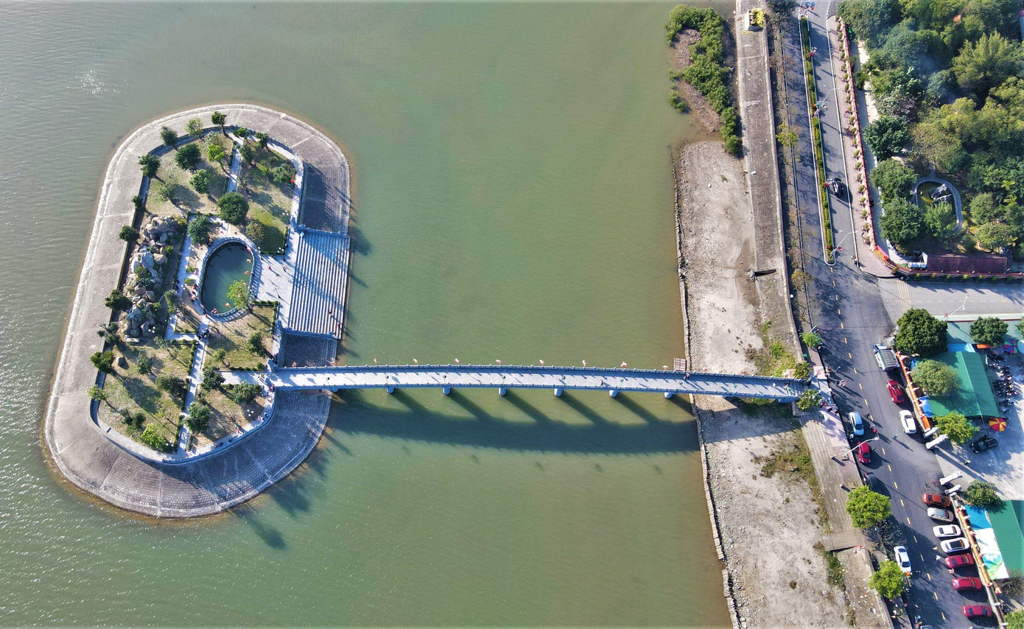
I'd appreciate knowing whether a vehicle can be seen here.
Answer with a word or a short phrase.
Yes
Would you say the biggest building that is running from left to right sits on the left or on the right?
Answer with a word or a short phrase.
right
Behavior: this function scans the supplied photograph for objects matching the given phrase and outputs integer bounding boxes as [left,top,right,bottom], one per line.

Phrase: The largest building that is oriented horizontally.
[914,254,1006,281]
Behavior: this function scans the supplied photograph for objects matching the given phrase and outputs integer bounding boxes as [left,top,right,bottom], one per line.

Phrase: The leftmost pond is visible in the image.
[195,235,258,318]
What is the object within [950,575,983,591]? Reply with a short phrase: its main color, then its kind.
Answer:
red car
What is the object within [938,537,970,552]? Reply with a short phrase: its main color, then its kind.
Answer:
white car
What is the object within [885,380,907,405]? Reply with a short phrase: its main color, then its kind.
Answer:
red car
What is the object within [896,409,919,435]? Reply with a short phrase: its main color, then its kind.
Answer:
white car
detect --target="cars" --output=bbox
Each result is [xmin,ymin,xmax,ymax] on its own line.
[885,380,907,405]
[910,623,924,629]
[950,575,983,591]
[829,178,845,197]
[856,440,873,465]
[968,435,1000,452]
[938,537,970,552]
[931,523,962,537]
[925,506,955,523]
[921,494,951,508]
[846,411,864,436]
[892,544,912,575]
[961,603,994,619]
[859,468,879,491]
[896,409,919,435]
[944,552,975,568]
